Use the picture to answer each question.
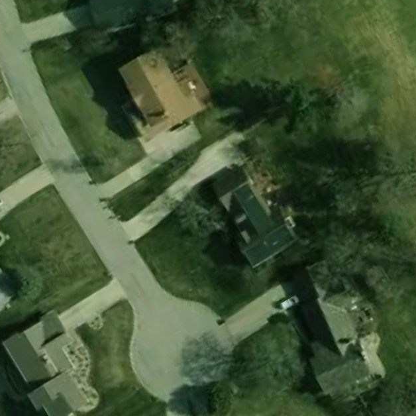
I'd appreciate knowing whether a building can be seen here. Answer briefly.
Yes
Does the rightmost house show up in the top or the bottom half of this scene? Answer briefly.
bottom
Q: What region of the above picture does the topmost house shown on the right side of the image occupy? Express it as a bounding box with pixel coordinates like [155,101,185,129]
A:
[213,168,297,270]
